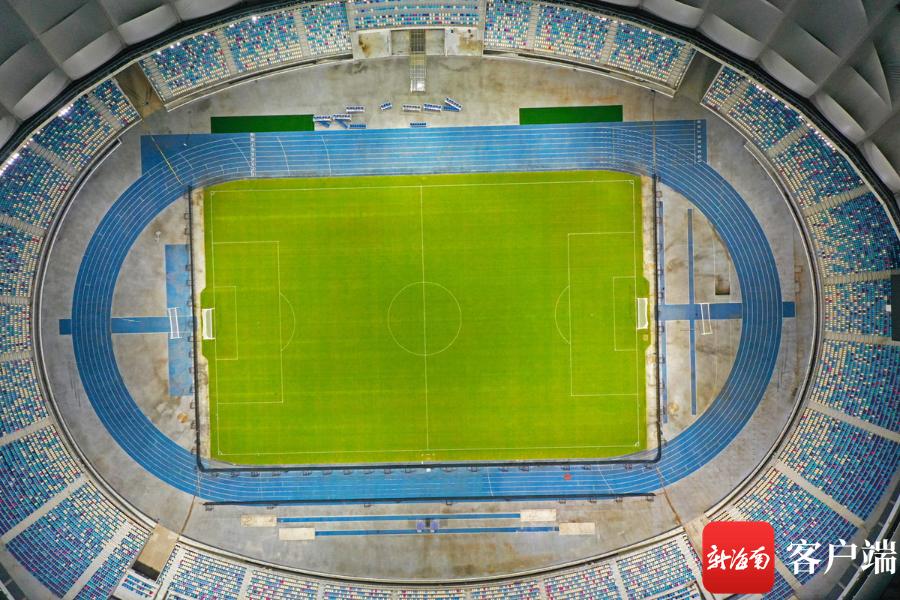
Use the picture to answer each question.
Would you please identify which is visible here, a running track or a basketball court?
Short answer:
running track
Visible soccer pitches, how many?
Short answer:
one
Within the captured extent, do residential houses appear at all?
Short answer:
No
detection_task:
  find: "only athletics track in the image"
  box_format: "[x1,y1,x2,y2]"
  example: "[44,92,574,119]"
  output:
[69,119,782,510]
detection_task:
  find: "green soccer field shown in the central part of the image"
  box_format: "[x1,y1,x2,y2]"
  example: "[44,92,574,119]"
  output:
[191,169,660,467]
